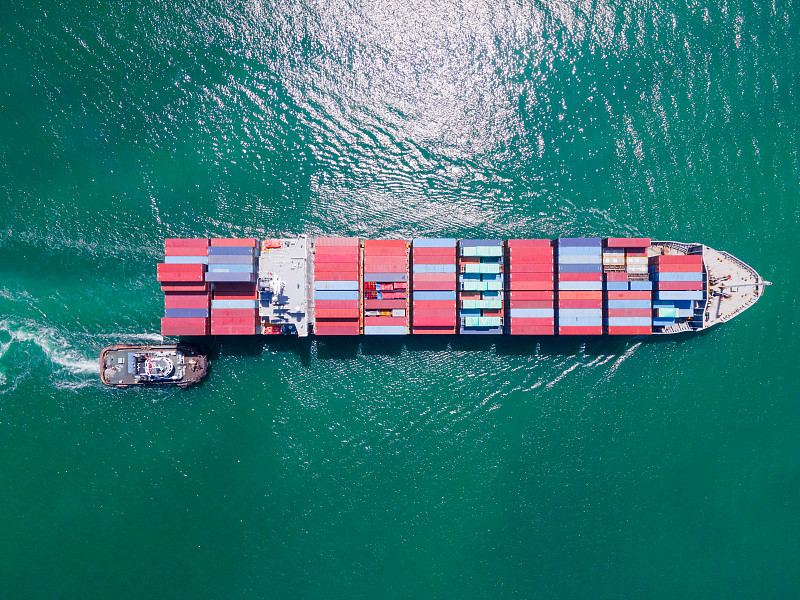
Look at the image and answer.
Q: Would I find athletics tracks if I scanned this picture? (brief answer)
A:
No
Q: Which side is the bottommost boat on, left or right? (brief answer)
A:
left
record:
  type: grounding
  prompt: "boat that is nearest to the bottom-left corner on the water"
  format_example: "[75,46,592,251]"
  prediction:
[98,345,210,389]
